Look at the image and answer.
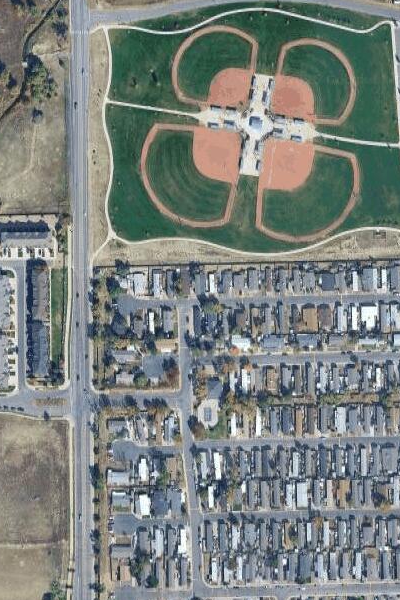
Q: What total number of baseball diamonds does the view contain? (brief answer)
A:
4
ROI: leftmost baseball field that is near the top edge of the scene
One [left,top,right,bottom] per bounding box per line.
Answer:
[171,22,259,113]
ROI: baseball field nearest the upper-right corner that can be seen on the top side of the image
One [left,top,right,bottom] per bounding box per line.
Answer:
[268,37,356,125]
